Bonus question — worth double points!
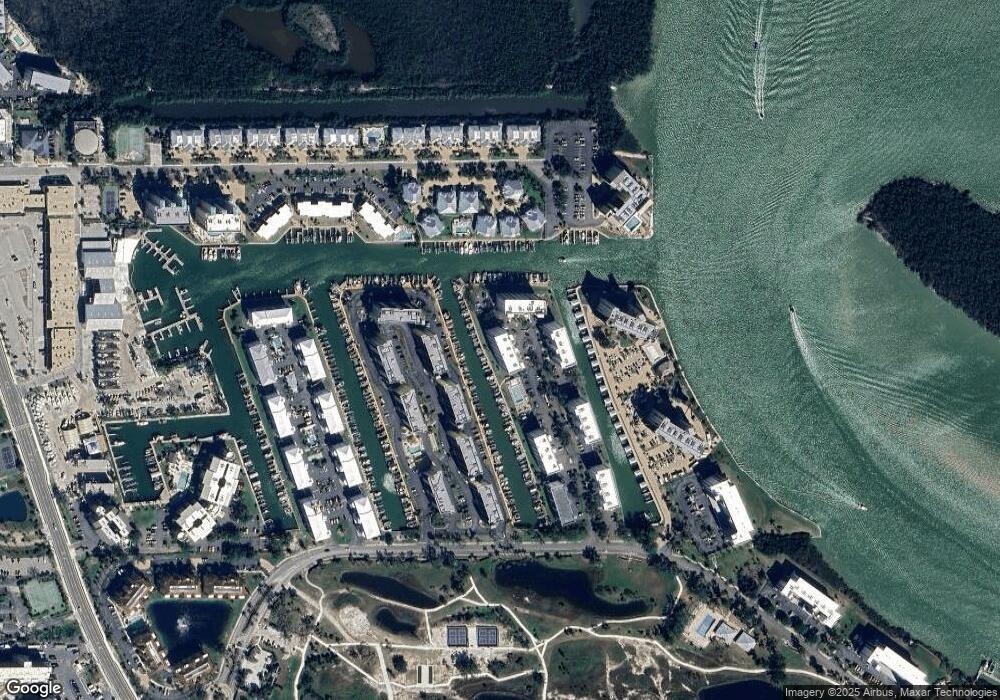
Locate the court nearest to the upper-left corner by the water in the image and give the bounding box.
[117,126,145,154]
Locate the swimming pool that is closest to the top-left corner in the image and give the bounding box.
[10,29,27,49]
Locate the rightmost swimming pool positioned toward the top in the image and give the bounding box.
[624,215,643,234]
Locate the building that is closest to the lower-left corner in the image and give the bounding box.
[0,660,52,688]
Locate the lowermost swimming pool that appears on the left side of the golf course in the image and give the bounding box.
[124,610,144,624]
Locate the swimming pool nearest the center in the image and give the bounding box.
[508,382,525,404]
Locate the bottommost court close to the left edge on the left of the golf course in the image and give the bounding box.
[25,579,64,615]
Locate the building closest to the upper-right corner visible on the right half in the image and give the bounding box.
[601,165,648,222]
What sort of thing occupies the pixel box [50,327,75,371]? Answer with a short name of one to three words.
building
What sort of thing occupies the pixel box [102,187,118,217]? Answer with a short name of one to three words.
tennis court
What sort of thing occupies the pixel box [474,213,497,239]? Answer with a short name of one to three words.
house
